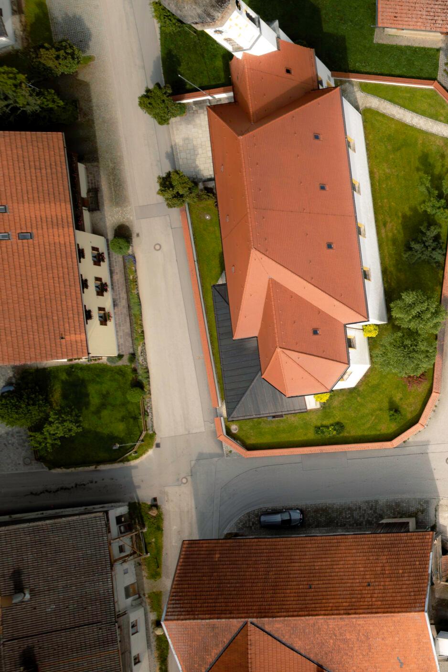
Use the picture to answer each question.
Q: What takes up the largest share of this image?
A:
buildings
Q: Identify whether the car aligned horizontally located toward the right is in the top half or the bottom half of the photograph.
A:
bottom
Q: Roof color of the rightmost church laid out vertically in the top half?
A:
orange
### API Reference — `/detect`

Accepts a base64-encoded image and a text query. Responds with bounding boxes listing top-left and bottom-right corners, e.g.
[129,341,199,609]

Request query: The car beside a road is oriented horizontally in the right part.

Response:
[258,506,307,529]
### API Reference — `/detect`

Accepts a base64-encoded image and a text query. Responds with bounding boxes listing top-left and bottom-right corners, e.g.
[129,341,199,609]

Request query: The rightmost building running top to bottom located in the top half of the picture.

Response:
[160,0,386,421]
